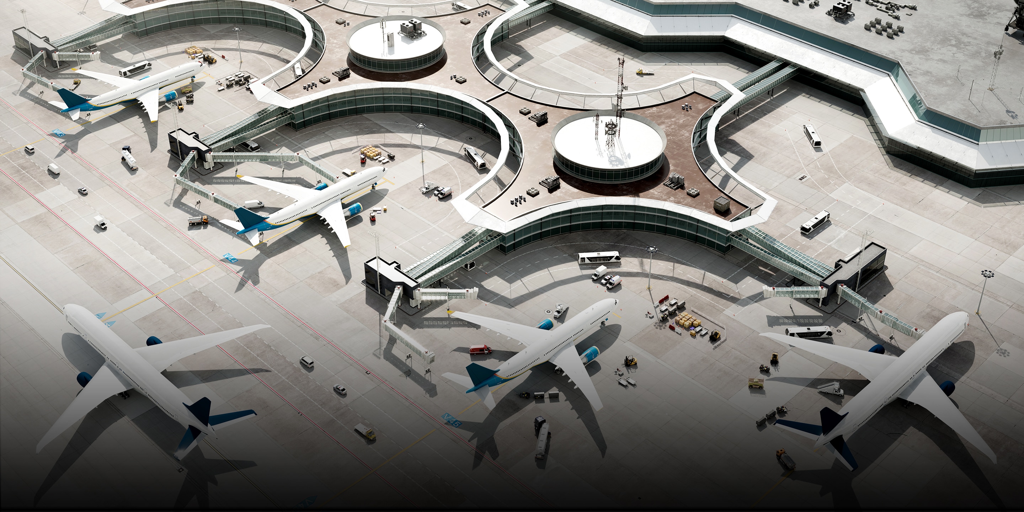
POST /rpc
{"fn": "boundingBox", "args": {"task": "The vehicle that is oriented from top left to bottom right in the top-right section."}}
[803,126,822,149]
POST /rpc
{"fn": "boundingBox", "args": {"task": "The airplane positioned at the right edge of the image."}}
[757,313,996,468]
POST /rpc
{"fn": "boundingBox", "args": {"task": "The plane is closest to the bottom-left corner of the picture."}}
[35,305,274,459]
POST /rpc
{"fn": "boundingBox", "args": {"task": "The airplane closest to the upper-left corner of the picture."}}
[53,63,207,121]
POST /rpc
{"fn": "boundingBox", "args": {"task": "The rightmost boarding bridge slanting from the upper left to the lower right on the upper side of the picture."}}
[170,149,267,221]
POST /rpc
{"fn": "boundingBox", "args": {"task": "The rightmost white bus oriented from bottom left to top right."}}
[799,211,830,235]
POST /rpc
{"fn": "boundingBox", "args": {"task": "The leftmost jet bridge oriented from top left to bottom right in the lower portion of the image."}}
[379,284,439,371]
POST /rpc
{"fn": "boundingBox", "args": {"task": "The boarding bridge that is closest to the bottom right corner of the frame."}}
[836,282,929,344]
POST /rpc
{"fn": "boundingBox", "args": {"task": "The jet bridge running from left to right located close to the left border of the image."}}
[51,50,106,71]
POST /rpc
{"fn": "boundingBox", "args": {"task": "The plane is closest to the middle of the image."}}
[441,299,617,409]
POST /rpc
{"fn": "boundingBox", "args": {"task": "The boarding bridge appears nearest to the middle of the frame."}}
[413,286,481,312]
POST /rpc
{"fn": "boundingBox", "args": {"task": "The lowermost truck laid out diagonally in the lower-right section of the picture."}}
[774,447,796,473]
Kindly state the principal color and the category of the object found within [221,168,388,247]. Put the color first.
white airplane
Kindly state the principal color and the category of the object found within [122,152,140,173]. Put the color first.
white vehicle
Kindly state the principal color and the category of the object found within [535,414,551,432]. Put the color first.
black vehicle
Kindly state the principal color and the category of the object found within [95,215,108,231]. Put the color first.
white vehicle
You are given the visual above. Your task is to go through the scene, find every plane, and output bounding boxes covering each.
[53,63,207,121]
[221,168,388,247]
[757,313,996,468]
[35,305,274,459]
[441,299,617,409]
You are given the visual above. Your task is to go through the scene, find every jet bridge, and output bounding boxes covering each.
[379,284,439,371]
[755,284,827,310]
[51,50,106,71]
[170,149,267,221]
[836,282,929,344]
[205,150,348,185]
[18,49,92,103]
[413,286,481,312]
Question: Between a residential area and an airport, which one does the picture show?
airport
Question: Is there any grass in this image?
No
